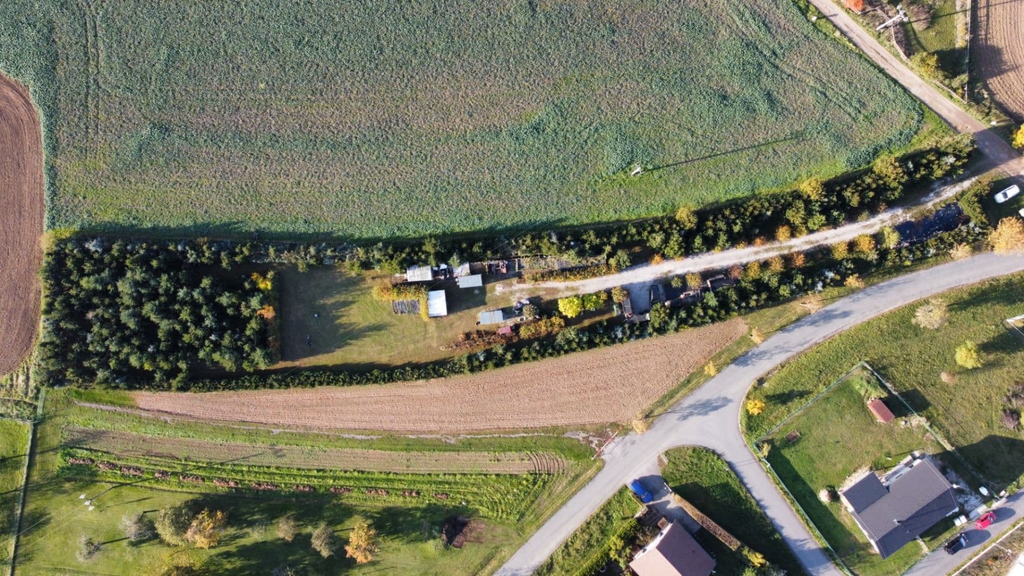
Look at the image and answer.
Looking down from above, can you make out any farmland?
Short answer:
Yes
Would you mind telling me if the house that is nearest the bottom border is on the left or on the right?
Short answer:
right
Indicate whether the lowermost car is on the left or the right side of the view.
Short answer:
right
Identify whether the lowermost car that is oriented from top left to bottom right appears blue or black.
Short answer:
blue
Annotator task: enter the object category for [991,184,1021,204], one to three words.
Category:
car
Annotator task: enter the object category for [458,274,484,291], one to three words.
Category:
shed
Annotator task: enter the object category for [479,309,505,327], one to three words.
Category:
shed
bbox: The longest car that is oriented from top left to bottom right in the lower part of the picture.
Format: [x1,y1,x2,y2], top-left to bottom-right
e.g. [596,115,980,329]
[629,479,652,502]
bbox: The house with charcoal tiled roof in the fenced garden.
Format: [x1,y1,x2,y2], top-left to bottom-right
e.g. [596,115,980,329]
[841,458,958,554]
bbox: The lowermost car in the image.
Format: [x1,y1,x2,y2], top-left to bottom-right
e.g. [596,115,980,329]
[942,533,968,554]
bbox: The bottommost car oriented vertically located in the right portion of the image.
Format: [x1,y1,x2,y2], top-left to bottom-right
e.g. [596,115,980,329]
[647,281,661,310]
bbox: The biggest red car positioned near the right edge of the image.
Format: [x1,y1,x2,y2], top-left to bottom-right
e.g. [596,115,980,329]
[973,510,997,529]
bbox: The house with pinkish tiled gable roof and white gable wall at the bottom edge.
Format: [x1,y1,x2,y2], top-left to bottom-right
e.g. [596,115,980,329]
[629,518,717,576]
